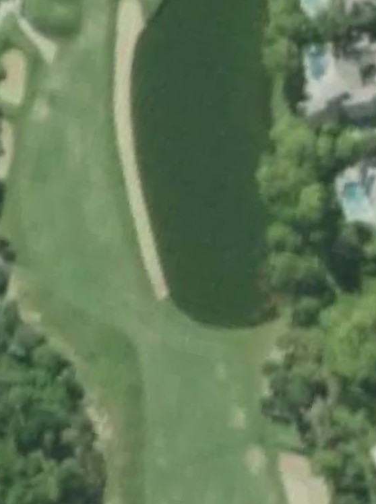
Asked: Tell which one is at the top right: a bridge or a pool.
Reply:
pool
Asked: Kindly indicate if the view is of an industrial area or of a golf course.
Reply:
golf course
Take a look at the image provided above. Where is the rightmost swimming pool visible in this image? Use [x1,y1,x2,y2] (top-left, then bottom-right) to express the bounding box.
[337,165,375,227]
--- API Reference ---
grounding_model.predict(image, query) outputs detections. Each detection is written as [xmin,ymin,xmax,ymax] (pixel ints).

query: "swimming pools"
[337,165,375,227]
[302,42,333,84]
[300,0,329,16]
